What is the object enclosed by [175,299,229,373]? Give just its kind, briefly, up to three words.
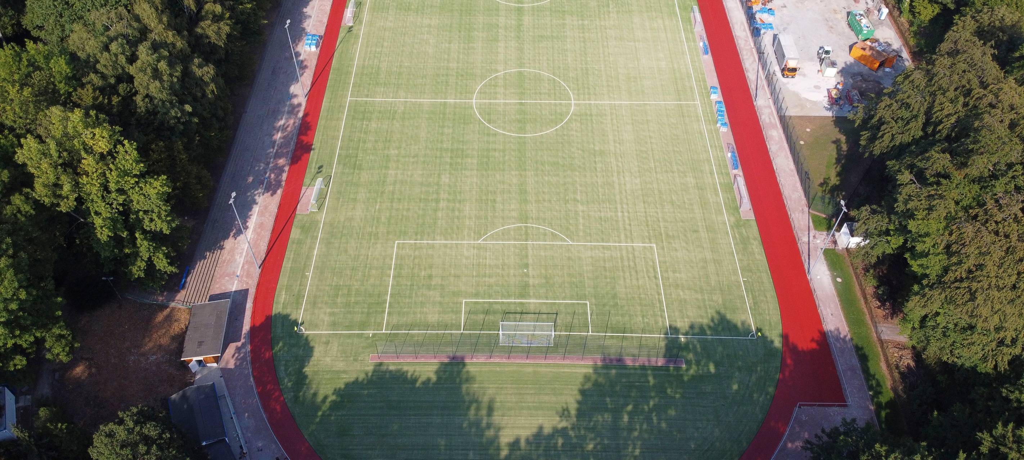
building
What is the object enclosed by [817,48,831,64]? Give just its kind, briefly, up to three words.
work vehicle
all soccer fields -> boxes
[271,0,781,460]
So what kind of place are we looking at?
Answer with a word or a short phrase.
sports ground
